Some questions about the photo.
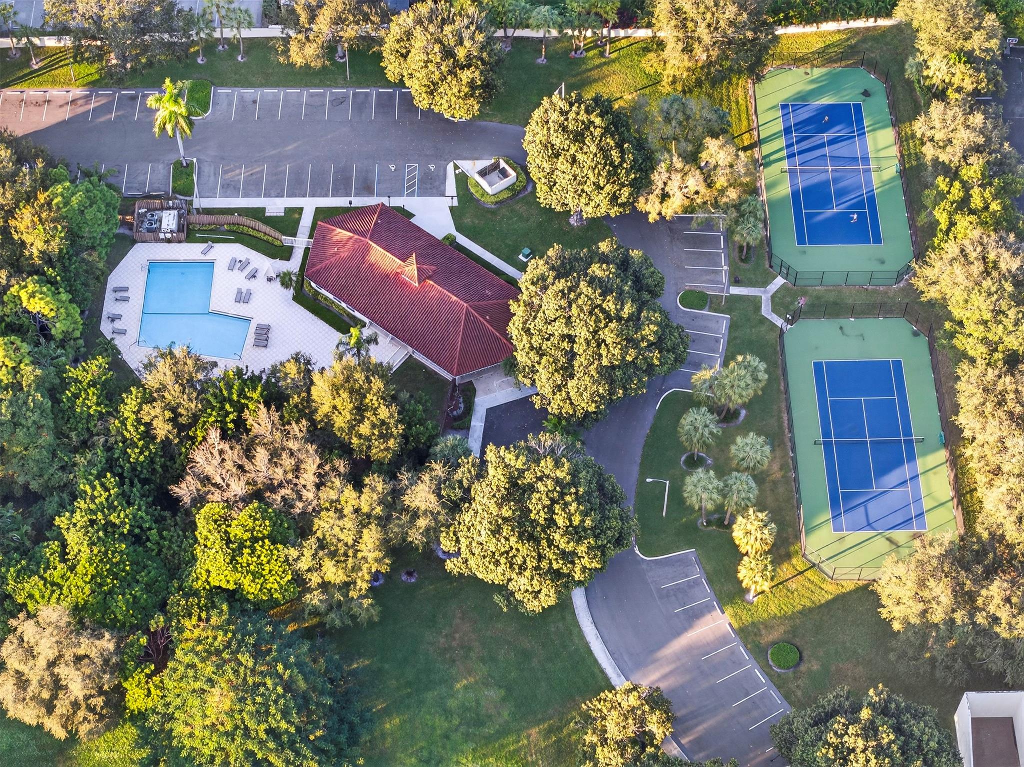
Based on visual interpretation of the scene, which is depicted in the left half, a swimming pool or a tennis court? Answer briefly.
swimming pool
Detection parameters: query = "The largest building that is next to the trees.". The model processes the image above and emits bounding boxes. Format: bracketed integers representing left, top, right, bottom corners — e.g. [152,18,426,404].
[305,201,527,390]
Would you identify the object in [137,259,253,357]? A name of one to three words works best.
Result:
swimming pool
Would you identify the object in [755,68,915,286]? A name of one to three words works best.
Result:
tennis court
